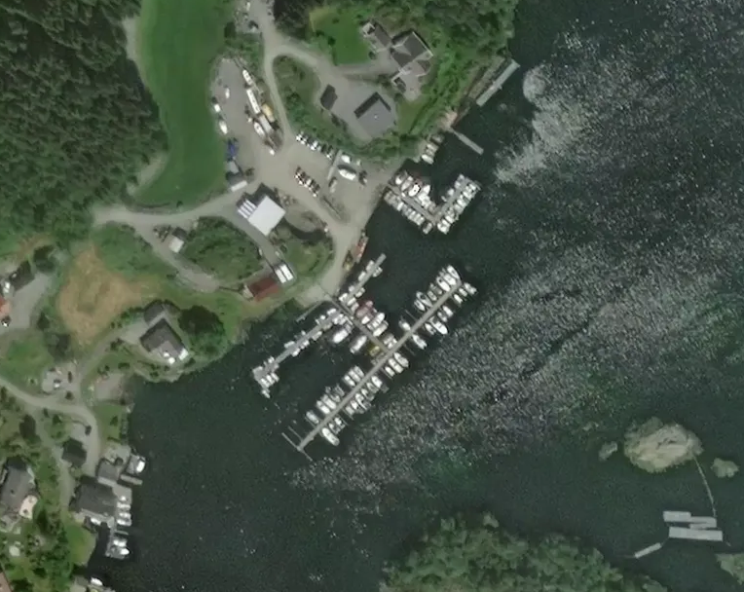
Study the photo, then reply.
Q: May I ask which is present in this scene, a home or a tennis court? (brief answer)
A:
home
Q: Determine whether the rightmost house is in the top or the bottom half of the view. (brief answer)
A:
top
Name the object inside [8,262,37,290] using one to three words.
building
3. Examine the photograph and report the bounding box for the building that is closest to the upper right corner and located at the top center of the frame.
[388,32,437,83]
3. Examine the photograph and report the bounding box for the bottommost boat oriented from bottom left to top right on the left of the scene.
[132,457,146,476]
